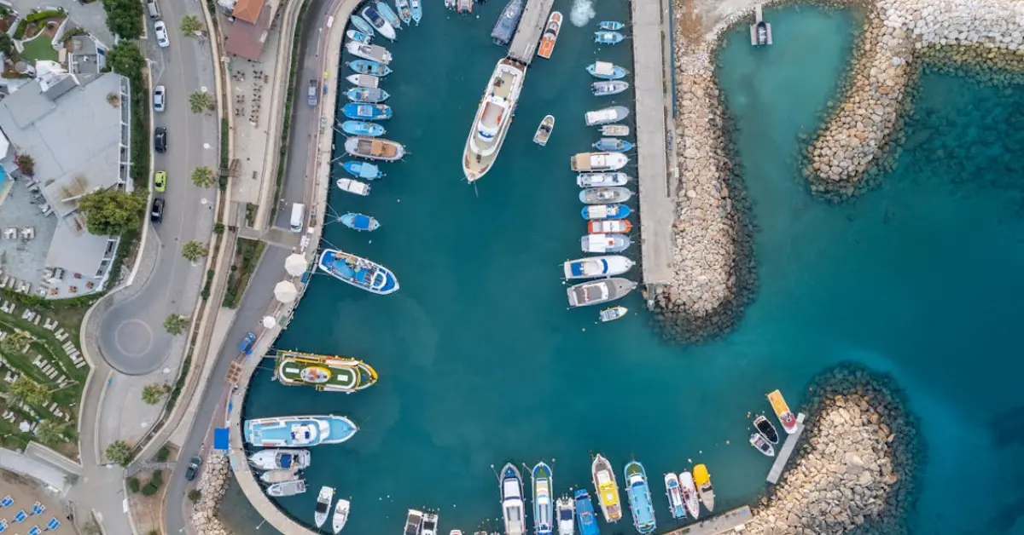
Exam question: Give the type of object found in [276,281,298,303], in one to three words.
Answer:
umbrella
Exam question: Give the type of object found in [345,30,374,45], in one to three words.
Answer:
boat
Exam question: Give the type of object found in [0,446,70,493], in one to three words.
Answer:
building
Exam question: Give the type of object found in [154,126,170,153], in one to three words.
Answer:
car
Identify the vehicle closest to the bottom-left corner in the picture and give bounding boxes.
[184,454,204,482]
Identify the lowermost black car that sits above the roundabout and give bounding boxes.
[151,198,168,224]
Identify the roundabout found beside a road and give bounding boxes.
[98,303,171,375]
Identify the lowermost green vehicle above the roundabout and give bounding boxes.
[155,171,169,192]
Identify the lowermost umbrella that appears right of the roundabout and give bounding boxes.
[264,315,278,329]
